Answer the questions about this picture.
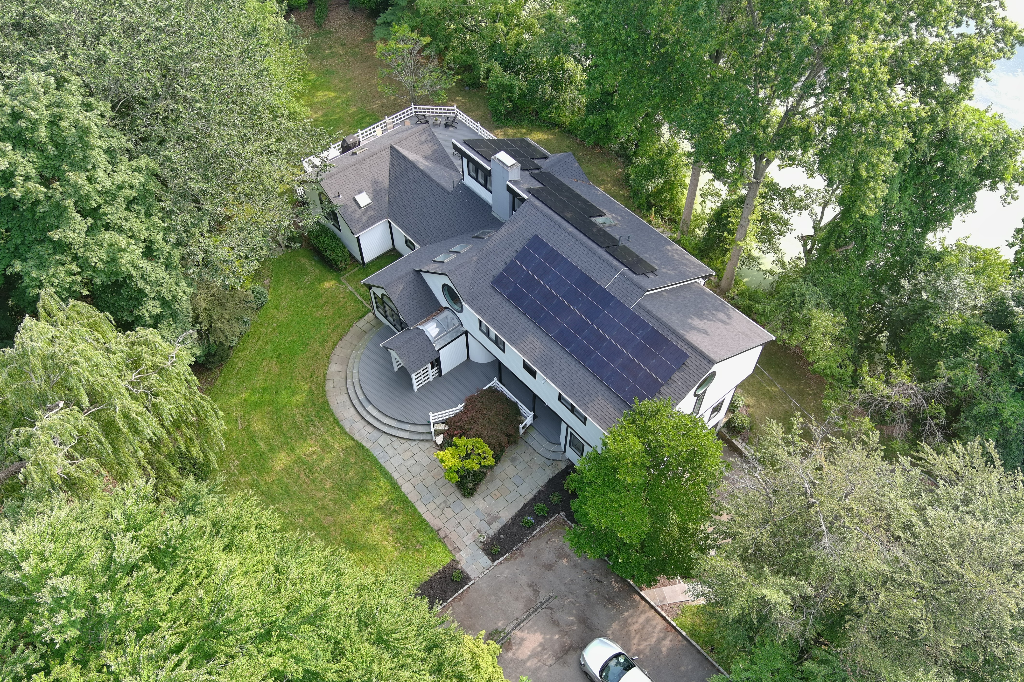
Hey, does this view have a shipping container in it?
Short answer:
No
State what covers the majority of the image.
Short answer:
trees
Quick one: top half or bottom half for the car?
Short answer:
bottom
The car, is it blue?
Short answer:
No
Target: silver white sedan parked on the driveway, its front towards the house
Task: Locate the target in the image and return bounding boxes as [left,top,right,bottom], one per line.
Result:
[580,637,654,682]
